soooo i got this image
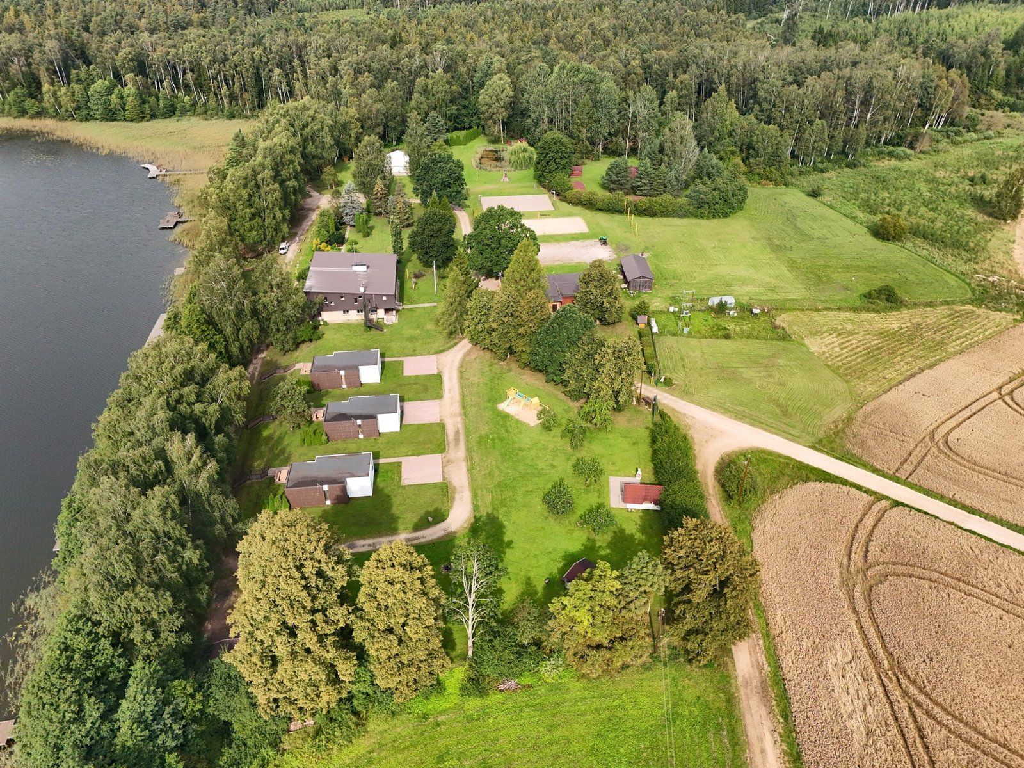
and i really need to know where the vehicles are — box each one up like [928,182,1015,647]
[598,231,608,246]
[277,237,290,251]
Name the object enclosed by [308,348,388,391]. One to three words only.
building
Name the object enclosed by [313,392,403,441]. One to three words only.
building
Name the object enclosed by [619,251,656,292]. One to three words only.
barn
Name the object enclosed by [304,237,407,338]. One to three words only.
house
